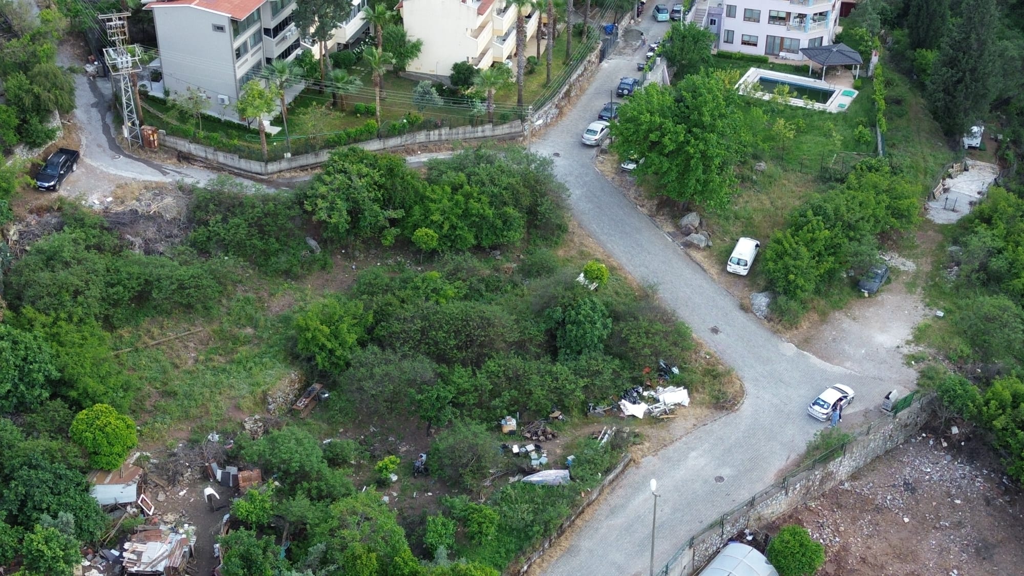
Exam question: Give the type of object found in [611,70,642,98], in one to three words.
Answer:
car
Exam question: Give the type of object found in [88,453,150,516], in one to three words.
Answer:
shed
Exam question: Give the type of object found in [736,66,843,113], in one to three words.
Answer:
swimming pool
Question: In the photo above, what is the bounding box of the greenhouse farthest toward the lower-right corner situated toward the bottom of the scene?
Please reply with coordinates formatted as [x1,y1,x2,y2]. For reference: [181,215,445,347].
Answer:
[693,539,781,576]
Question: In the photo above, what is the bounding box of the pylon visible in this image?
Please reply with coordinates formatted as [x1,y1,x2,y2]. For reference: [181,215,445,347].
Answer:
[84,16,142,151]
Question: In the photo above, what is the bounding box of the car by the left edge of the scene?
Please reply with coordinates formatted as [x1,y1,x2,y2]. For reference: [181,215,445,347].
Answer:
[37,145,81,185]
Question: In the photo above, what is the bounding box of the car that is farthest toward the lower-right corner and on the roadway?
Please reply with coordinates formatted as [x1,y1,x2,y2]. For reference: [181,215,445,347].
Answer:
[804,383,860,421]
